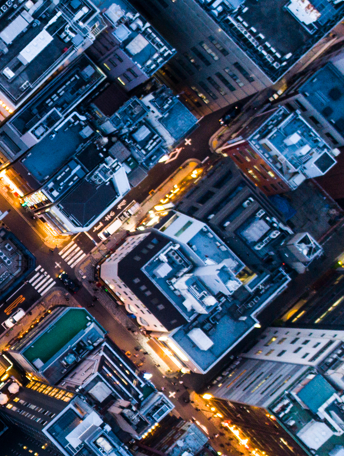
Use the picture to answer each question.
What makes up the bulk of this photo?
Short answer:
buildings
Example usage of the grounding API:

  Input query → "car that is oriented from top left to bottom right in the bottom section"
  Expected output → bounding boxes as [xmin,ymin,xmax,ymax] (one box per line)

[58,272,80,293]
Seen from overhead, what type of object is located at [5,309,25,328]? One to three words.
car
